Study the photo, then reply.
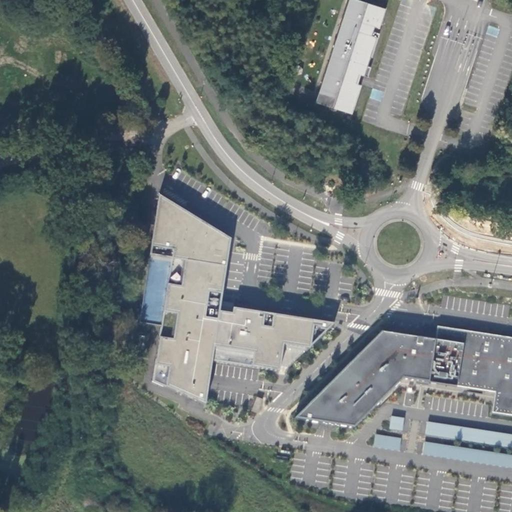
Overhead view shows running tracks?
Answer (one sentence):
No, I can't see a single running track in this photo.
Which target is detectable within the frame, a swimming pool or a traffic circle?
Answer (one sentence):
This aerial view contains a traffic circle.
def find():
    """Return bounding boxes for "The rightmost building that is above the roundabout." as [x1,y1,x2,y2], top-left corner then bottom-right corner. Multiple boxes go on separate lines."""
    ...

[316,0,384,115]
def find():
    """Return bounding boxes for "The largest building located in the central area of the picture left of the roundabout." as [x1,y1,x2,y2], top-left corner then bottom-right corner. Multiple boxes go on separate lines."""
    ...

[144,194,334,402]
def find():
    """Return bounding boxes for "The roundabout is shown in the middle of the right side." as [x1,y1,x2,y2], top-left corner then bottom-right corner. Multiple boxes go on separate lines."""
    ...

[361,206,436,280]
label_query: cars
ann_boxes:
[172,168,180,179]
[442,24,450,36]
[276,454,290,460]
[340,294,351,300]
[280,450,291,454]
[202,187,212,198]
